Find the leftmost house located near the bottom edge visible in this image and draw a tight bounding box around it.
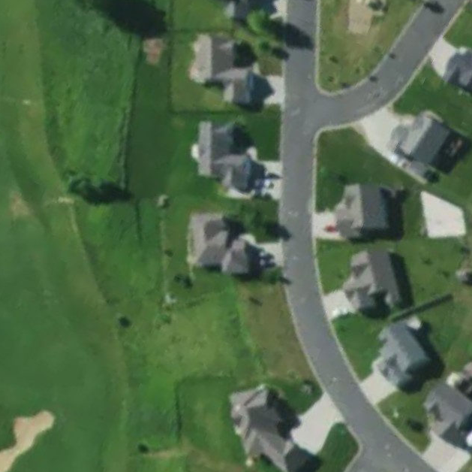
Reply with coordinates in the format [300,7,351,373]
[232,383,298,471]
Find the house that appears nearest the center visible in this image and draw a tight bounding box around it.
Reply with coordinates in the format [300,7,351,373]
[190,215,252,274]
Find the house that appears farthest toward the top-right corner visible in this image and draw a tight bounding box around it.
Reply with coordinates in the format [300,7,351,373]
[440,48,472,101]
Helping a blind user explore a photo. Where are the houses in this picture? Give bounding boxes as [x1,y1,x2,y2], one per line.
[198,121,254,191]
[377,316,433,391]
[333,182,390,238]
[440,48,472,101]
[197,33,256,103]
[344,248,400,313]
[232,383,298,471]
[383,112,452,180]
[190,215,252,274]
[422,377,472,452]
[227,0,261,21]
